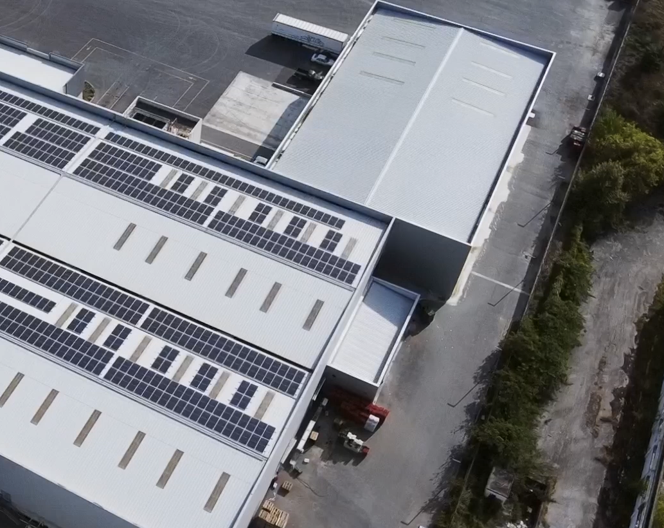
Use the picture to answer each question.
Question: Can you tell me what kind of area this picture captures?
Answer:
industrial area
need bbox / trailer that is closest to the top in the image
[270,13,347,56]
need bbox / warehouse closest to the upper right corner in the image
[262,0,557,302]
